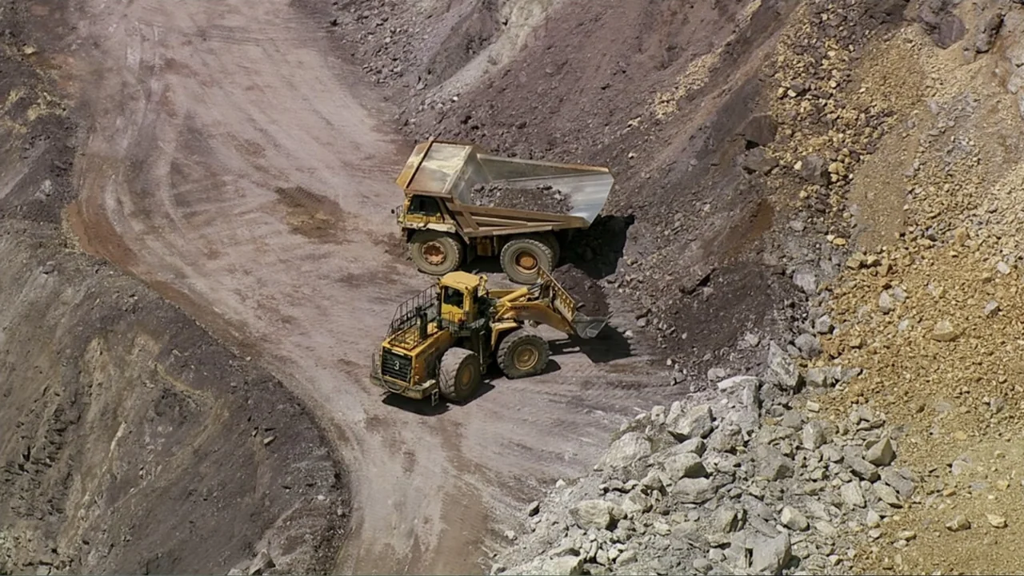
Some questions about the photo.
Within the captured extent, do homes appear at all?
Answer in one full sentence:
No, no home is visible in the scene.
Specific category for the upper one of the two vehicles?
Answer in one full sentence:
It turns out the upper one of the two vehicles is a truck.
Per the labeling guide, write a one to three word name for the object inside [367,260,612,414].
work vehicle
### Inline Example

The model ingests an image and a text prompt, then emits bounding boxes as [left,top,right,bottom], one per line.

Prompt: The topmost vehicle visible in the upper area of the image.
[382,140,613,277]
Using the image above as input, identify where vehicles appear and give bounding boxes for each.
[382,140,613,277]
[367,260,612,414]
